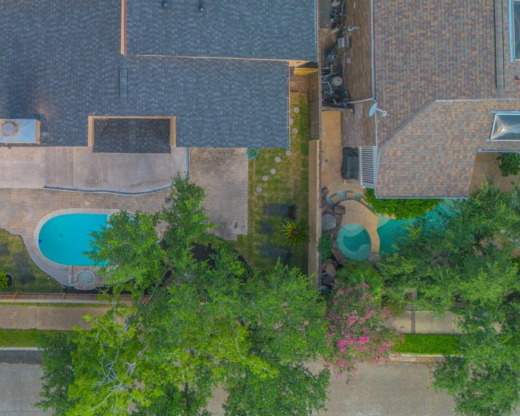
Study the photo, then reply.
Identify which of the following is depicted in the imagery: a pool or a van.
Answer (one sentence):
I can see a pool in this picture.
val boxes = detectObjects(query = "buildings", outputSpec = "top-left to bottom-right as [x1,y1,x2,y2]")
[350,0,520,204]
[0,0,319,154]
